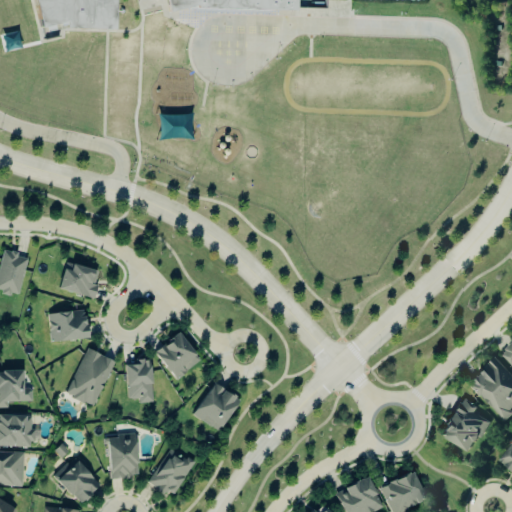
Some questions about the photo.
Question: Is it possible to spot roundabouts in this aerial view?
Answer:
Yes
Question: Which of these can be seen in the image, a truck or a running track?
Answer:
running track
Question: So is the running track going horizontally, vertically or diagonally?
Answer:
horizontally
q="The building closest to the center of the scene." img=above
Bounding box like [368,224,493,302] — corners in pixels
[155,332,202,378]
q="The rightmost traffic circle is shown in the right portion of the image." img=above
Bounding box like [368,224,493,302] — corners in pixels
[360,390,426,456]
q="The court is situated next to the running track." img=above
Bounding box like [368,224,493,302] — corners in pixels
[192,14,305,84]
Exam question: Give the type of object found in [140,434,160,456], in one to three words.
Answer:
swimming pool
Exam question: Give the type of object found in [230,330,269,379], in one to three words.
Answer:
roundabout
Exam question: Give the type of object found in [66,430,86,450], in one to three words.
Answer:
swimming pool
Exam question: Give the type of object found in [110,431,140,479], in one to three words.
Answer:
house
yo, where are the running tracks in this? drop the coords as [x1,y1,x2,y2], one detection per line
[284,57,450,114]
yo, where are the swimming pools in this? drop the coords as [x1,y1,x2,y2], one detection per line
[66,430,86,450]
[60,396,78,418]
[40,418,54,439]
[26,457,38,477]
[140,434,160,456]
